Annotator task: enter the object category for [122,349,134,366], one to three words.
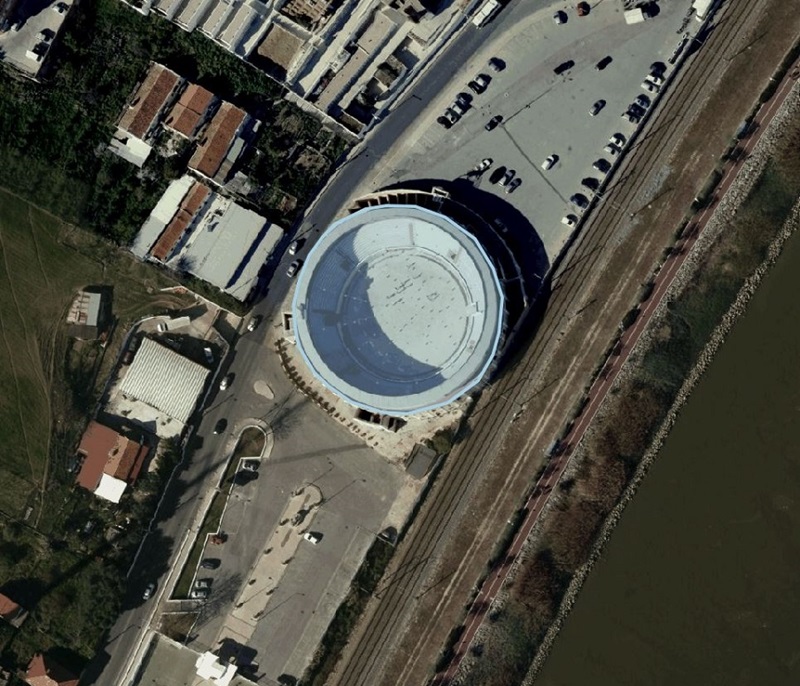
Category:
vehicle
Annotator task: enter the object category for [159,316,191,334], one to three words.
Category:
vehicle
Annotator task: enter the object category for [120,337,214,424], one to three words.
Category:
shed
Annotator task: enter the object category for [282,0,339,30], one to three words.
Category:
building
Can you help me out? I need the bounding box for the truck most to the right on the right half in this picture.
[693,0,715,24]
